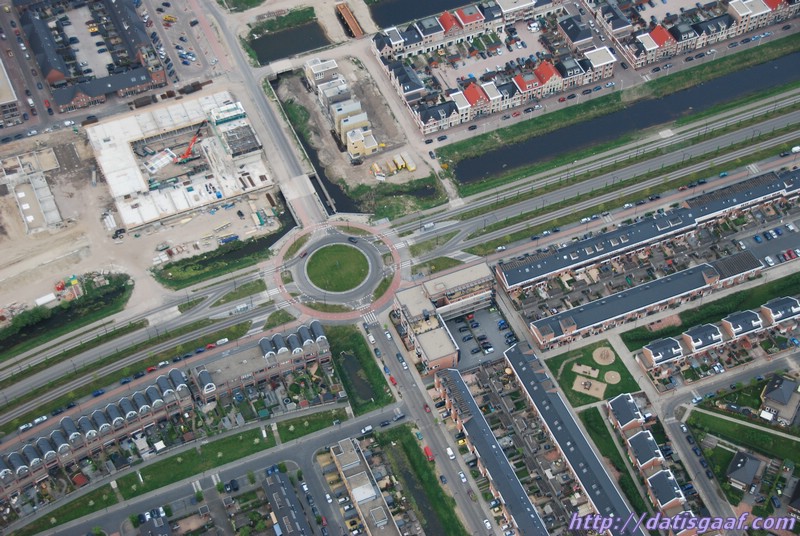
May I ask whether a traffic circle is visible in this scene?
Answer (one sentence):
Yes, you can see a traffic circle in this photo.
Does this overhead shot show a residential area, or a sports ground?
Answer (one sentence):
The area seen from above is a residential area.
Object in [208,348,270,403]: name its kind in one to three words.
building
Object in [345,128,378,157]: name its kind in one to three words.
house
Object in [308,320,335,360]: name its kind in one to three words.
house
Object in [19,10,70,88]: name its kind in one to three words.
building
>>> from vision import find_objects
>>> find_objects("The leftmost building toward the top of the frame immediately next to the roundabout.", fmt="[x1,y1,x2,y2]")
[85,91,273,231]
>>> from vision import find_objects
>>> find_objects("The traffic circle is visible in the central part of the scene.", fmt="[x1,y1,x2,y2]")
[275,222,401,319]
